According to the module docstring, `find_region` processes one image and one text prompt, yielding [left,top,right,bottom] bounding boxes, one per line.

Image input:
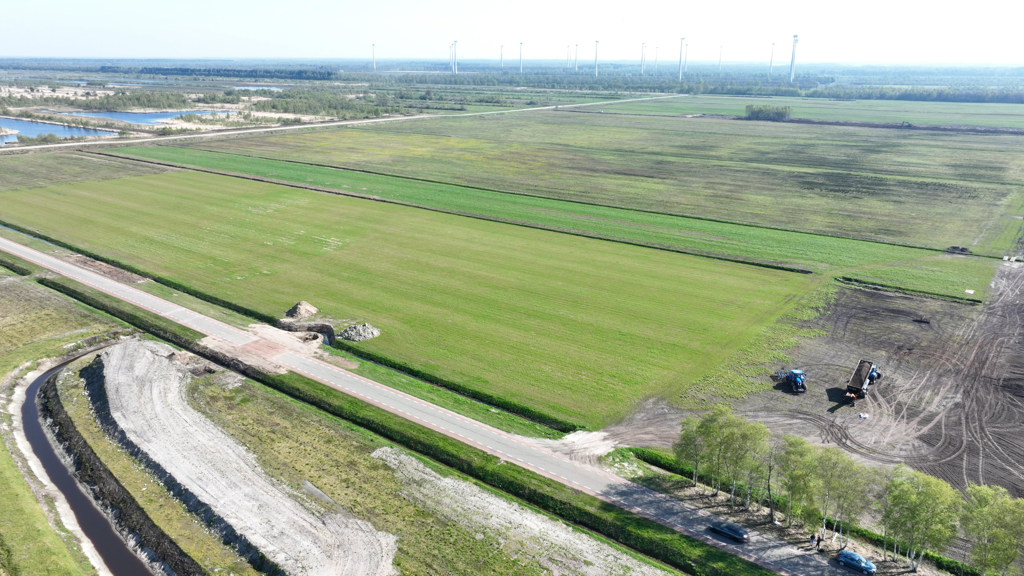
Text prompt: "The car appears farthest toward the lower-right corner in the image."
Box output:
[835,546,877,574]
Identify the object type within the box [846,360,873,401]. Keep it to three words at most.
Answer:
trailer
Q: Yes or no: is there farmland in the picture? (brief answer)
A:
Yes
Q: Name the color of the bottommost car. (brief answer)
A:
blue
